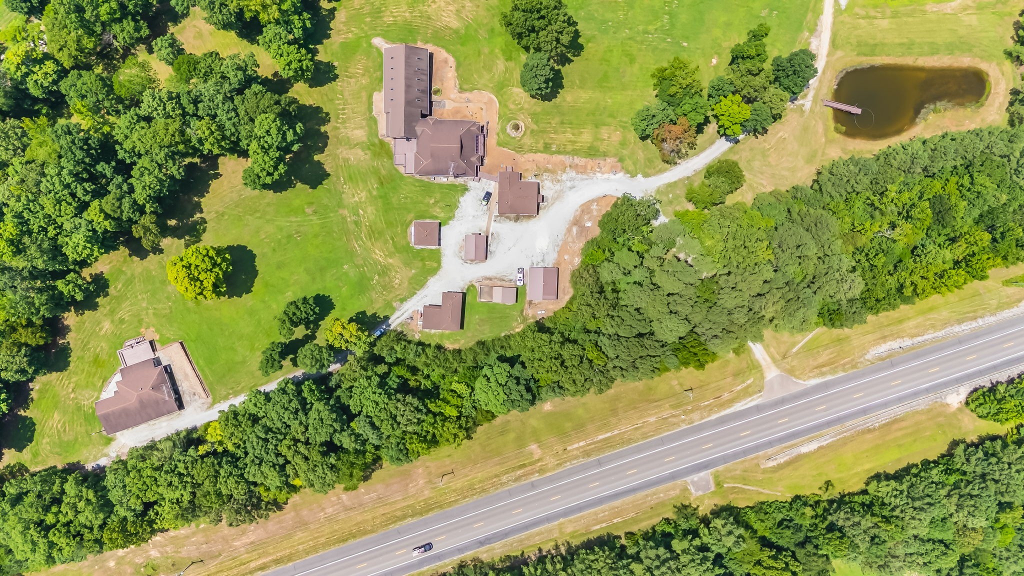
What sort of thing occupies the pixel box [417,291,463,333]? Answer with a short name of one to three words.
house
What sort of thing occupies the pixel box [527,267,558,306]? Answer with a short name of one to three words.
building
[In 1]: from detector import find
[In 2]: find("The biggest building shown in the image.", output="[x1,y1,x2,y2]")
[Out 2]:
[384,44,498,181]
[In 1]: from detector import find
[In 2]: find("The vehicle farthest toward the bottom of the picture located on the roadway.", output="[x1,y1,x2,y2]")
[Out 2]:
[412,544,433,557]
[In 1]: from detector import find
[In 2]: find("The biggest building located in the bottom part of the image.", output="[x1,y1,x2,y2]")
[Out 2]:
[95,336,182,435]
